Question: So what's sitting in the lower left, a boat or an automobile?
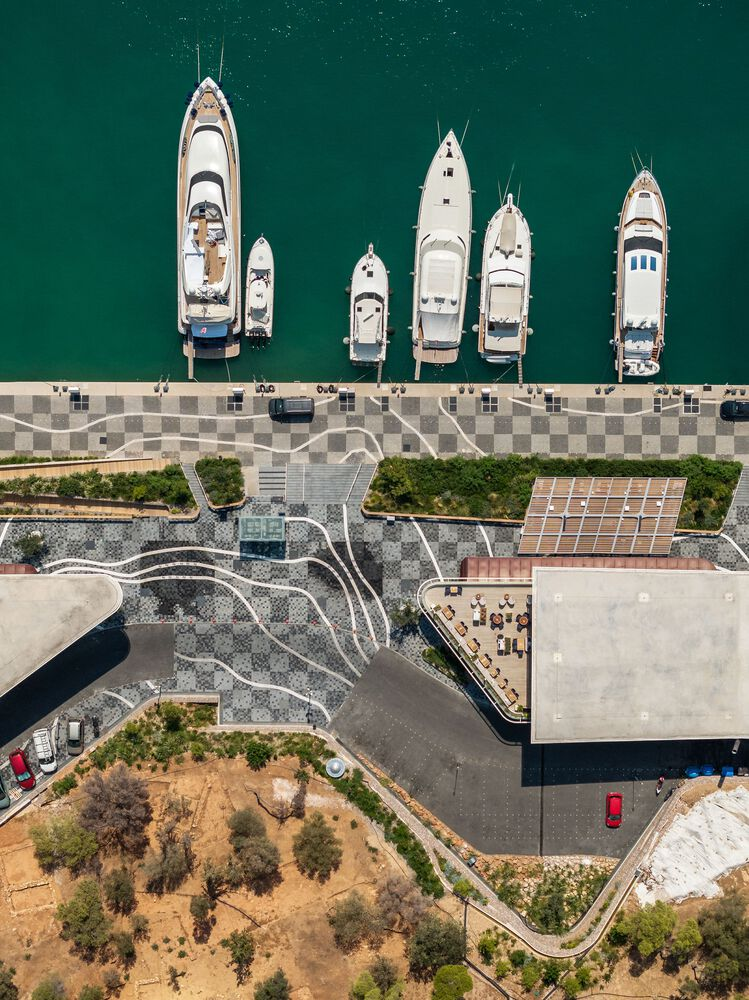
automobile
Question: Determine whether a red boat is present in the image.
No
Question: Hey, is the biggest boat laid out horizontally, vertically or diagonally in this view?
vertically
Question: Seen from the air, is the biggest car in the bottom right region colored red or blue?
red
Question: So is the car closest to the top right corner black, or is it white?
black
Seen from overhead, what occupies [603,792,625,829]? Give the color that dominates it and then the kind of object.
red car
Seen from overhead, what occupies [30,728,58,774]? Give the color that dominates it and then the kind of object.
white vehicle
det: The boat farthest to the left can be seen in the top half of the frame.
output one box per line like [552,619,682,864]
[178,38,241,383]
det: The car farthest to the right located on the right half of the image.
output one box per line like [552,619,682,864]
[722,399,749,421]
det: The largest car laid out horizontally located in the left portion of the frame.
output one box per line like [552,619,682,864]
[268,397,313,419]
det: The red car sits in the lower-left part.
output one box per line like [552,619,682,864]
[8,748,33,790]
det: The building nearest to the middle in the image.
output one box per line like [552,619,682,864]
[240,516,286,542]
